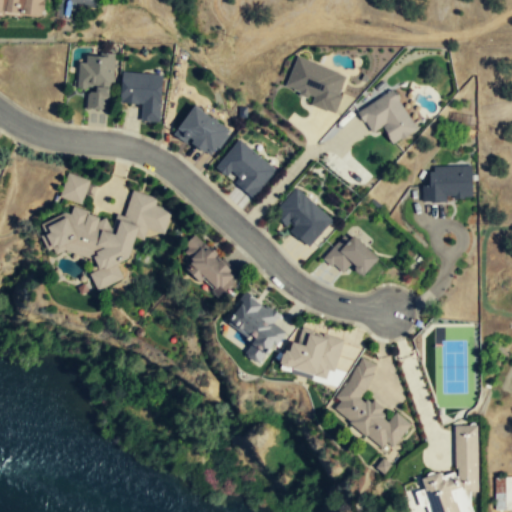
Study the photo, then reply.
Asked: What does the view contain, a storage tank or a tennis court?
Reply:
tennis court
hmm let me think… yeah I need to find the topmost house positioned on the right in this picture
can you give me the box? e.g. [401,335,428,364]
[289,56,346,112]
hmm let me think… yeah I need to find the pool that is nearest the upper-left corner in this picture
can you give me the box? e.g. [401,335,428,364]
[72,47,93,72]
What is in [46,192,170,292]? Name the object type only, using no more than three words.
house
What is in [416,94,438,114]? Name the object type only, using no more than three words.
swimming pool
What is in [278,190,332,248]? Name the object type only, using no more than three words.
house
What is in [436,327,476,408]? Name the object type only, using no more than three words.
tennis court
